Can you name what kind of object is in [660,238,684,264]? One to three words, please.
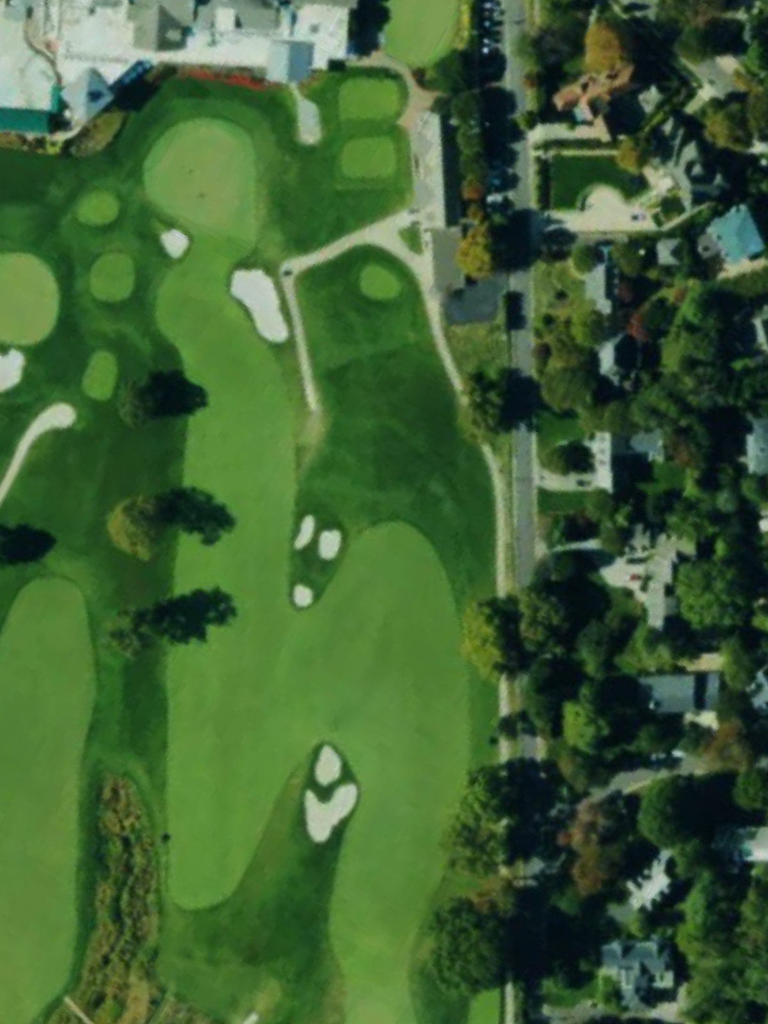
house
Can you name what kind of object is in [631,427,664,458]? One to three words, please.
house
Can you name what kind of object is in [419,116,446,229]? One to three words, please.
building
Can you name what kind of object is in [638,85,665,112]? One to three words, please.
shed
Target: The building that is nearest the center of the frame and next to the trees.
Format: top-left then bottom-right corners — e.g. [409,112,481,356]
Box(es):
[587,431,615,493]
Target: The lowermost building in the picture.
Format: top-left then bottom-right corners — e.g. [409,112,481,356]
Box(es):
[604,941,675,1008]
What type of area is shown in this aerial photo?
golf course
